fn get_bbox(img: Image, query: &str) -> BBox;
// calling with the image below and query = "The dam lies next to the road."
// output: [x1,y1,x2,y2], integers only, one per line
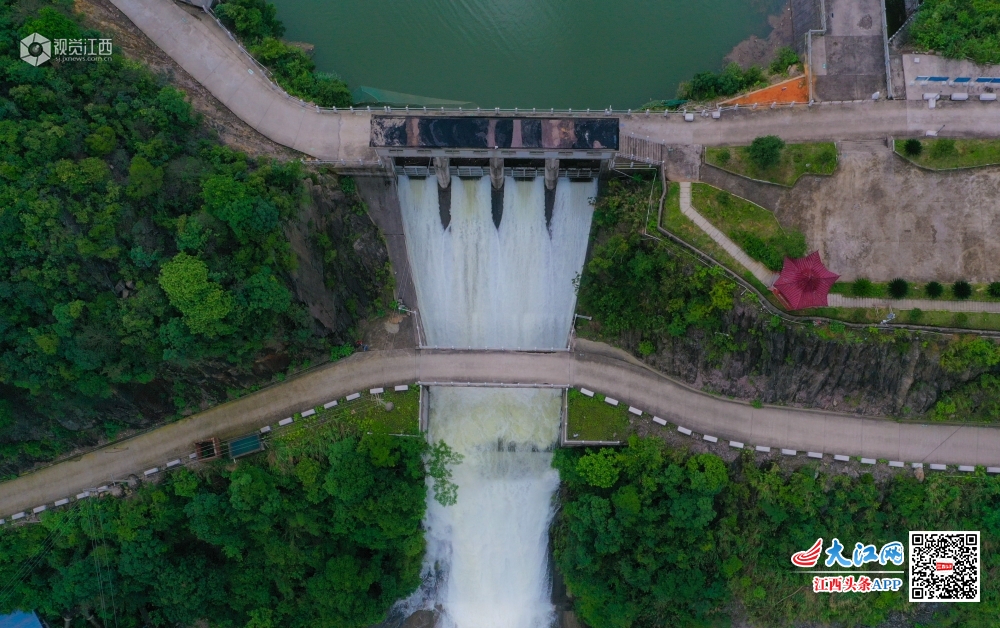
[319,105,726,347]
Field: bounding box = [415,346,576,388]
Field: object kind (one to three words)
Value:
bridge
